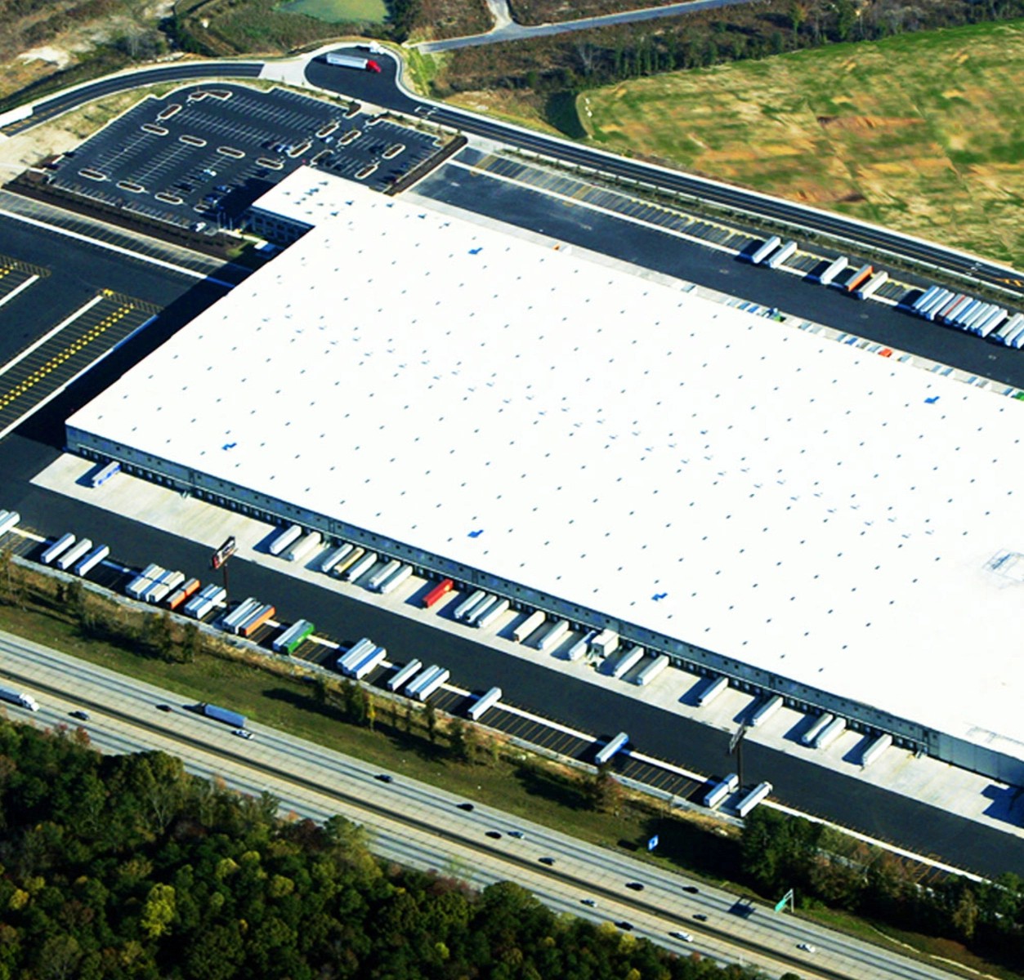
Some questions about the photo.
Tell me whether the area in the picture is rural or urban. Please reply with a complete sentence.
The area shown here is urban.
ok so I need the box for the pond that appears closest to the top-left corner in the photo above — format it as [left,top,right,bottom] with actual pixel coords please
[276,0,389,24]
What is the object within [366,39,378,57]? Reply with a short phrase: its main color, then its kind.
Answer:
white vehicle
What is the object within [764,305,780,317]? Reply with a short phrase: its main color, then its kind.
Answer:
blue vehicle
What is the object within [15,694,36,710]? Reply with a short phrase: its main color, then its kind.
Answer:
white vehicle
